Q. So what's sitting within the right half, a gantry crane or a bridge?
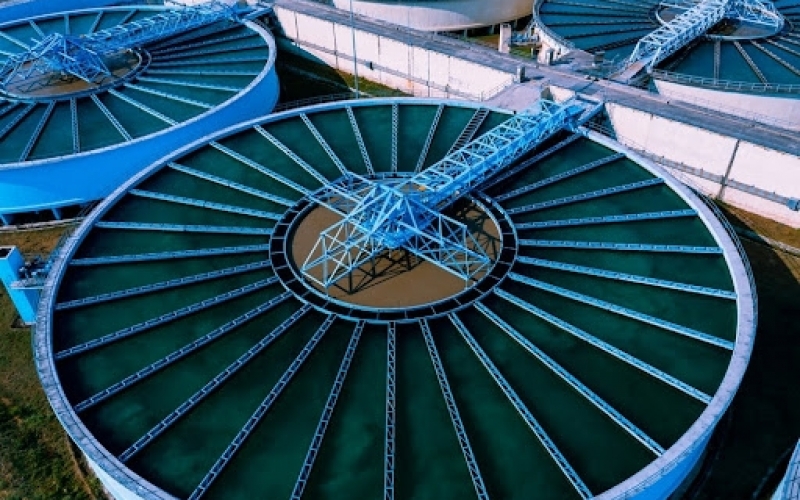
bridge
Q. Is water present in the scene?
Yes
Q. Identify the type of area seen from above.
industrial area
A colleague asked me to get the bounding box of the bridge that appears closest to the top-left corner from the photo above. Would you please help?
[68,0,244,63]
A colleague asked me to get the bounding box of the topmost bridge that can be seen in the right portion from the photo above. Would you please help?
[632,0,738,73]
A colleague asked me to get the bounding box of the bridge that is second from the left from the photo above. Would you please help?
[389,94,578,228]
